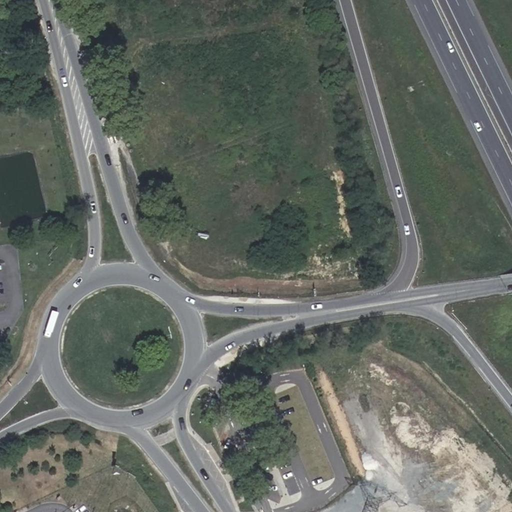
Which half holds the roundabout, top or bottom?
bottom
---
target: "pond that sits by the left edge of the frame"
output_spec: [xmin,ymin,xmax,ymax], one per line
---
[0,153,44,225]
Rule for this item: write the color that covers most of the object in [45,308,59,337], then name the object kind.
white vehicle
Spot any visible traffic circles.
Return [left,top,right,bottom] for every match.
[40,264,206,430]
